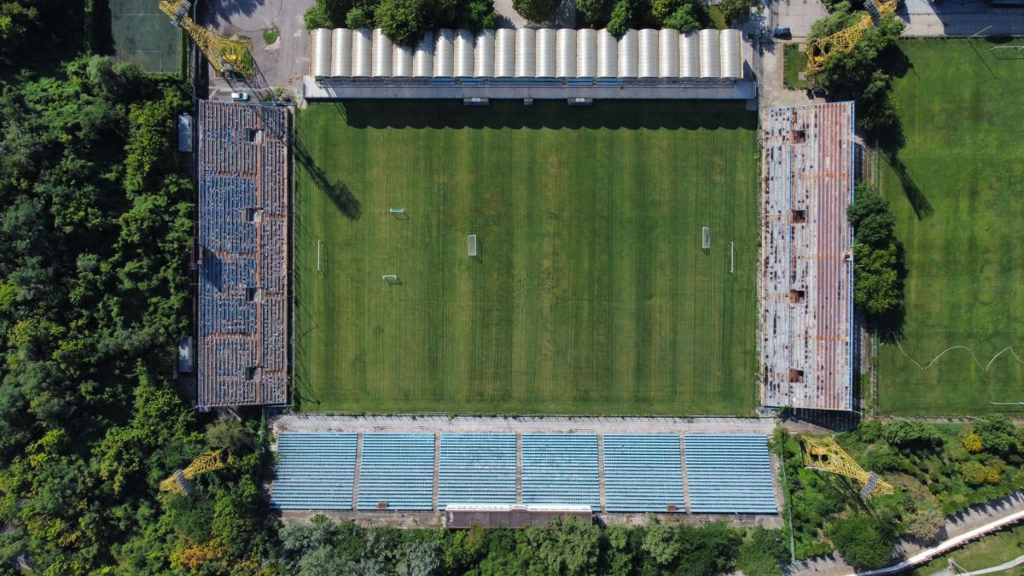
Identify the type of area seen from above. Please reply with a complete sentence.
This looks like a sports ground.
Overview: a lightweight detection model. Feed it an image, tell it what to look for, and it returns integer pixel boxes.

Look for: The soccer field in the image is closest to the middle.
[292,85,759,416]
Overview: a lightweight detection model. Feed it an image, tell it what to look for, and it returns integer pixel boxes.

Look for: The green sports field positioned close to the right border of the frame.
[878,38,1024,416]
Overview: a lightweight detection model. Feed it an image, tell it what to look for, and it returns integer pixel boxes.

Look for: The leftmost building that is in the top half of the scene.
[178,114,195,153]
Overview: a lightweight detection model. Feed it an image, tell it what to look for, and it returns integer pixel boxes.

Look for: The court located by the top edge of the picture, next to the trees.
[101,0,181,73]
